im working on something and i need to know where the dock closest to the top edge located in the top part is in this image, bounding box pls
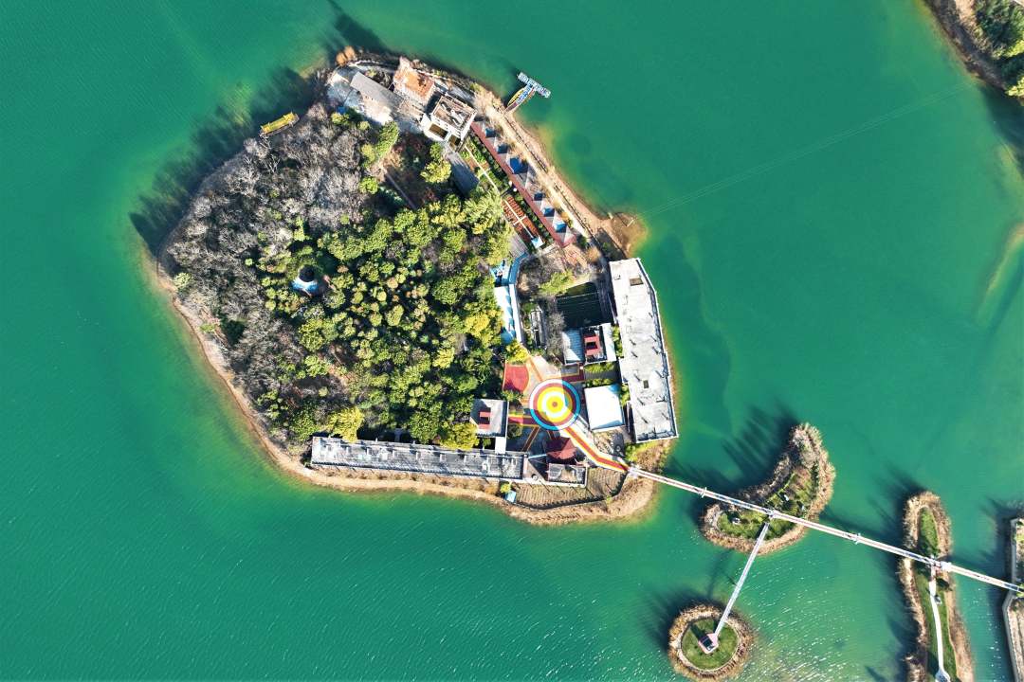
[503,70,551,114]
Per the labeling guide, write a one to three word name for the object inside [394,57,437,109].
house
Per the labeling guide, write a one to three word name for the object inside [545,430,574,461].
building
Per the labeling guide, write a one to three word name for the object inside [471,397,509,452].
house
